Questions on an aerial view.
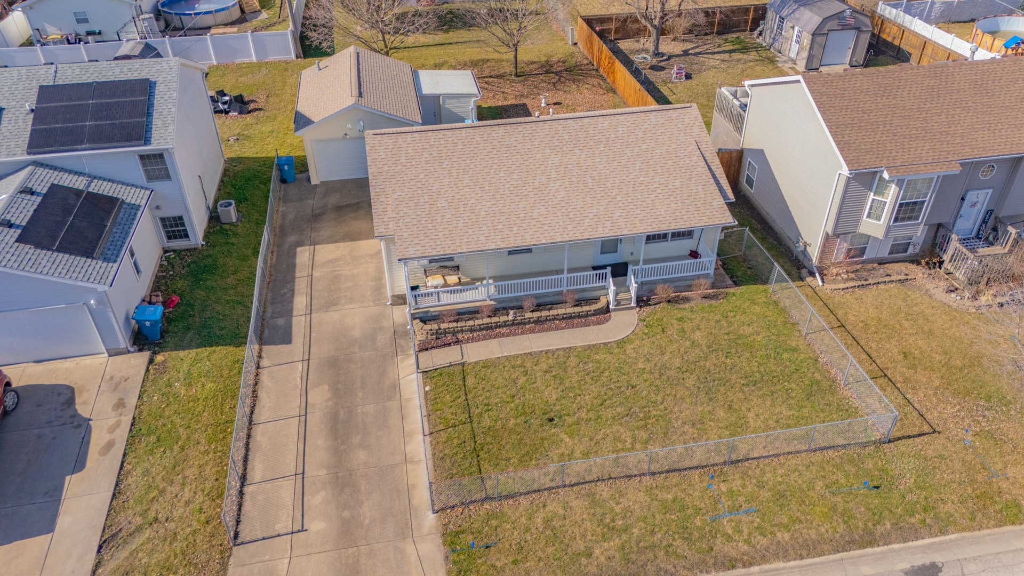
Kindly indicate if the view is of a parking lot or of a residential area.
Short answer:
residential area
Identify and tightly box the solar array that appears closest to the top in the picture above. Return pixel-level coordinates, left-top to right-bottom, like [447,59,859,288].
[27,78,152,157]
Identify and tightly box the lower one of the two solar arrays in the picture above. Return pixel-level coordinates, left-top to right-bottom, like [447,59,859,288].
[14,181,124,259]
